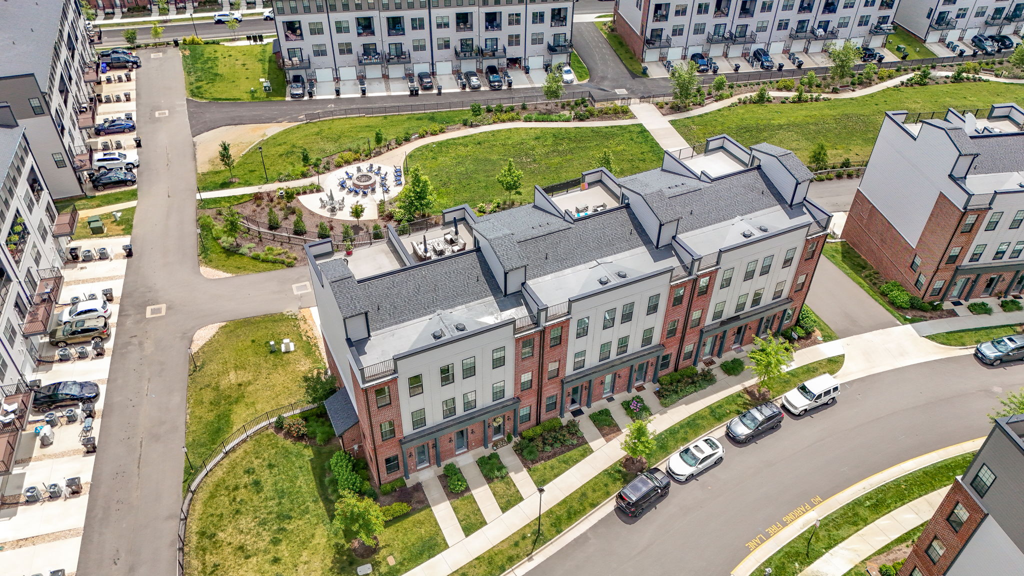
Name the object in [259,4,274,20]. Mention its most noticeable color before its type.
white car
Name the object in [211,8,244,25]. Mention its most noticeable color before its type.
white car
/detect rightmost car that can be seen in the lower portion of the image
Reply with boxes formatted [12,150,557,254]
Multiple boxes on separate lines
[980,338,1024,372]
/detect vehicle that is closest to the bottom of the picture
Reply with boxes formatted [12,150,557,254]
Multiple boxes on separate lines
[613,471,676,520]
